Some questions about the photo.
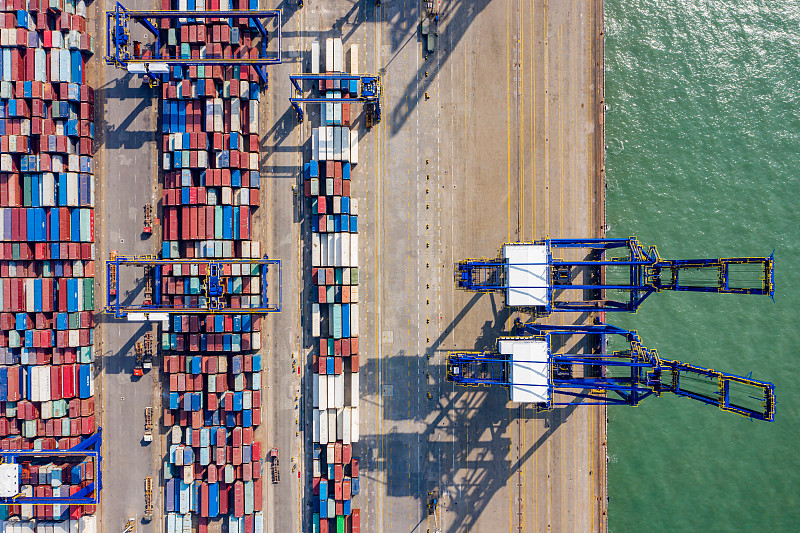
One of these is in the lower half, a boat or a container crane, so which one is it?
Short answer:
container crane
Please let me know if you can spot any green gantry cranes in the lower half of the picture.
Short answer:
No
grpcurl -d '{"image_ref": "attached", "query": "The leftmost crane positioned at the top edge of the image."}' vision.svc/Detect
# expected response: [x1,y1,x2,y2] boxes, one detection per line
[104,2,284,94]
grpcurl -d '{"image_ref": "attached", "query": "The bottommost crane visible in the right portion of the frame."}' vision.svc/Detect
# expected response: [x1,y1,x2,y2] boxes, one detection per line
[440,311,780,429]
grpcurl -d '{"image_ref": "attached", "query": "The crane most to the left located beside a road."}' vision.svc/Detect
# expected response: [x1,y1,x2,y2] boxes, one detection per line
[0,425,101,510]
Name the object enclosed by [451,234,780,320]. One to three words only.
container crane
